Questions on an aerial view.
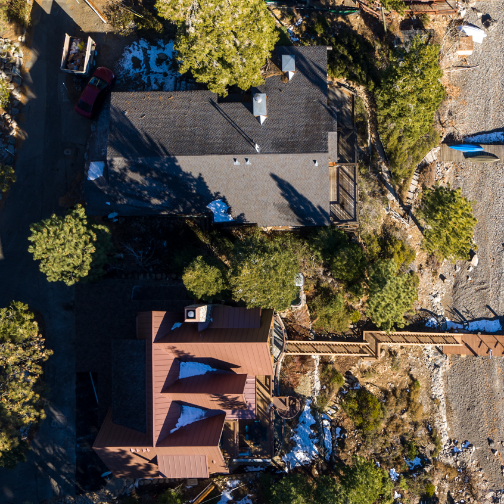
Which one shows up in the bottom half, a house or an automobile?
house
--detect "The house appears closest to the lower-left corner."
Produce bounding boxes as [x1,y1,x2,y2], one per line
[94,302,277,479]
